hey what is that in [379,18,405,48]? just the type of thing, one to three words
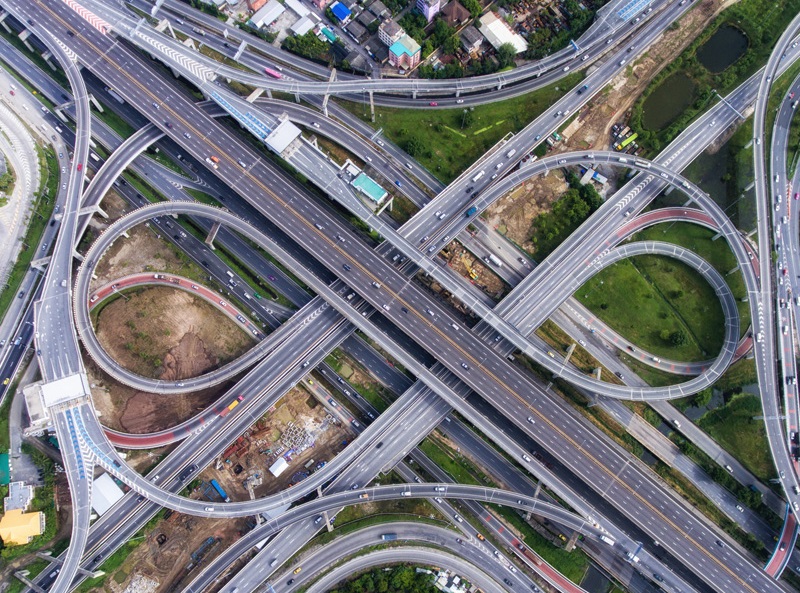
building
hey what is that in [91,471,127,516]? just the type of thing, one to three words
shed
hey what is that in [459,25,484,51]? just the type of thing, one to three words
house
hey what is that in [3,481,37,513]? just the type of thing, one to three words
building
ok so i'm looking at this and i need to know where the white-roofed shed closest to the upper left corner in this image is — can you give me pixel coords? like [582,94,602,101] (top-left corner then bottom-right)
[249,0,286,31]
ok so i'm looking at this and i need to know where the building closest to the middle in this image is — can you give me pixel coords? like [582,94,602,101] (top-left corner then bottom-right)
[339,159,394,215]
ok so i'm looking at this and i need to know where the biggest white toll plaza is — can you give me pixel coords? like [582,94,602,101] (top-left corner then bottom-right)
[41,355,91,408]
